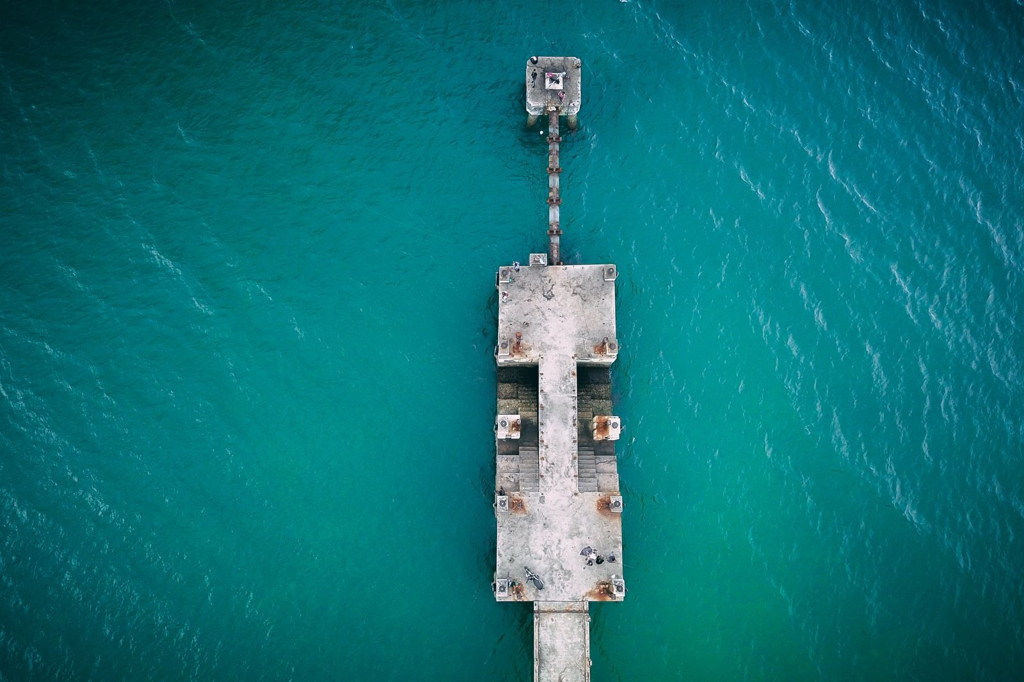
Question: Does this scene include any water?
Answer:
Yes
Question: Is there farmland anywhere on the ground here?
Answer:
No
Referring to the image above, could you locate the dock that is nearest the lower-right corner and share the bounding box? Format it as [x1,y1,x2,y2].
[591,416,620,441]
